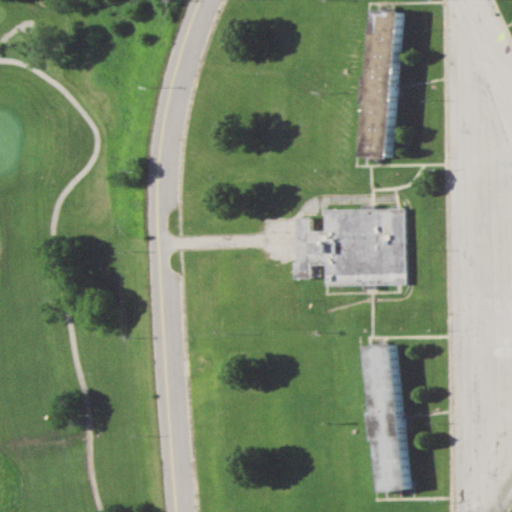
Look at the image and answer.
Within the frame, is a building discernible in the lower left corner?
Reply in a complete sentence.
No, no building is visible in the lower left corner.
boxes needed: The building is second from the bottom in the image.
[293,208,408,290]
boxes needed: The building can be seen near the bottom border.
[361,344,412,492]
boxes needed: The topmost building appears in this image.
[357,12,403,160]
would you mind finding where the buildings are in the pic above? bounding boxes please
[293,208,408,290]
[361,344,412,492]
[357,12,403,160]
